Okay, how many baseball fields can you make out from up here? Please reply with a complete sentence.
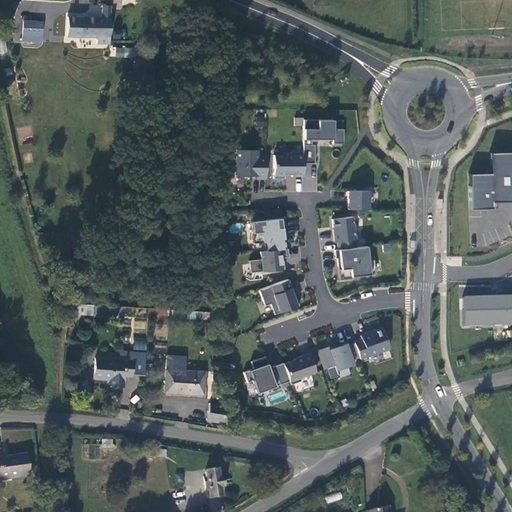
There are no baseball fields in the image.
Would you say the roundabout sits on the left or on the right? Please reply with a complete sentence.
You can find the roundabout on the right side of the picture.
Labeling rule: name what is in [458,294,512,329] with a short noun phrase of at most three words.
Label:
building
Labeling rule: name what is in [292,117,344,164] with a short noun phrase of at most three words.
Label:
house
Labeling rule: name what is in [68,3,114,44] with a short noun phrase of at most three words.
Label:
house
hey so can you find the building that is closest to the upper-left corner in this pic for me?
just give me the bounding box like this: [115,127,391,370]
[22,20,46,43]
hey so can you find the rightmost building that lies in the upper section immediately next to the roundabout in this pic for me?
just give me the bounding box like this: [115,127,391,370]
[468,152,512,209]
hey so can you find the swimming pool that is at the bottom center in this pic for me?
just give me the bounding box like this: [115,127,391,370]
[267,390,286,404]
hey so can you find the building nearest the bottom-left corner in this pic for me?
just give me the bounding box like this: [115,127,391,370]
[0,448,34,482]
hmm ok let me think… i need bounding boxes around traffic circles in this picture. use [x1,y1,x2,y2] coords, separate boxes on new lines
[381,64,476,158]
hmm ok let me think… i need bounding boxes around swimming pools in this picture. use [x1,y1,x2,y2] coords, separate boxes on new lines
[267,390,286,404]
[230,222,244,234]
